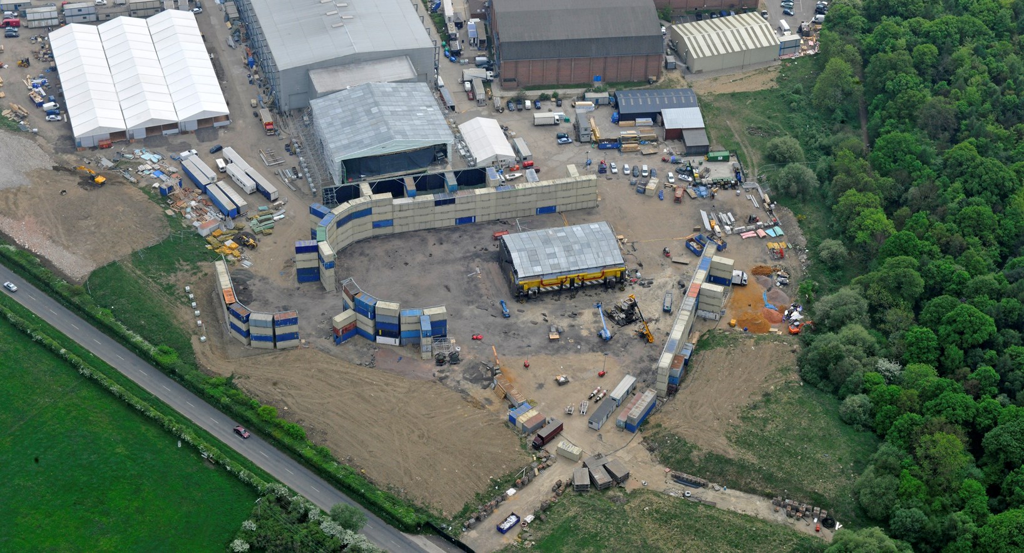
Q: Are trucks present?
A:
Yes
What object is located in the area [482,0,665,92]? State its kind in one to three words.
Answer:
hangar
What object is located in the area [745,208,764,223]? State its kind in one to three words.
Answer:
work vehicle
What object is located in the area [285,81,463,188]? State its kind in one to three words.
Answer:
shed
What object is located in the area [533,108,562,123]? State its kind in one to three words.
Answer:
vehicle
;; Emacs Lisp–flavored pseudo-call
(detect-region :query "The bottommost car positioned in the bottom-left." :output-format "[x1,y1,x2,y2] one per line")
[233,425,250,437]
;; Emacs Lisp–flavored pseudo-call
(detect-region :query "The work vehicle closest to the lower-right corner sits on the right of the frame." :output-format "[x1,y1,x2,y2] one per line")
[787,313,819,332]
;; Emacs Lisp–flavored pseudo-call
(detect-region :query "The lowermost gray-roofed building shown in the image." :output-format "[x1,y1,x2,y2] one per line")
[588,395,617,429]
